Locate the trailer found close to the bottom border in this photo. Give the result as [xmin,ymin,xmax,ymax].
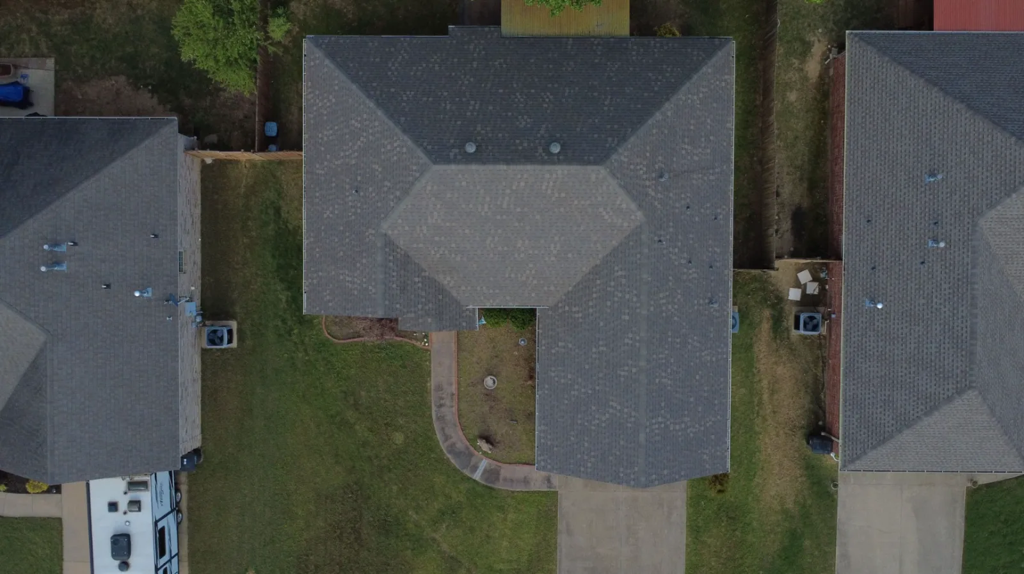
[85,470,186,574]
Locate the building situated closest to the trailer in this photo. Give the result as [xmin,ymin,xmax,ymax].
[0,115,206,484]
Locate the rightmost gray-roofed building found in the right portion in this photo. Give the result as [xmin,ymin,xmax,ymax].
[825,29,1024,474]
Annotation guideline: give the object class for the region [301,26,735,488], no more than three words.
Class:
house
